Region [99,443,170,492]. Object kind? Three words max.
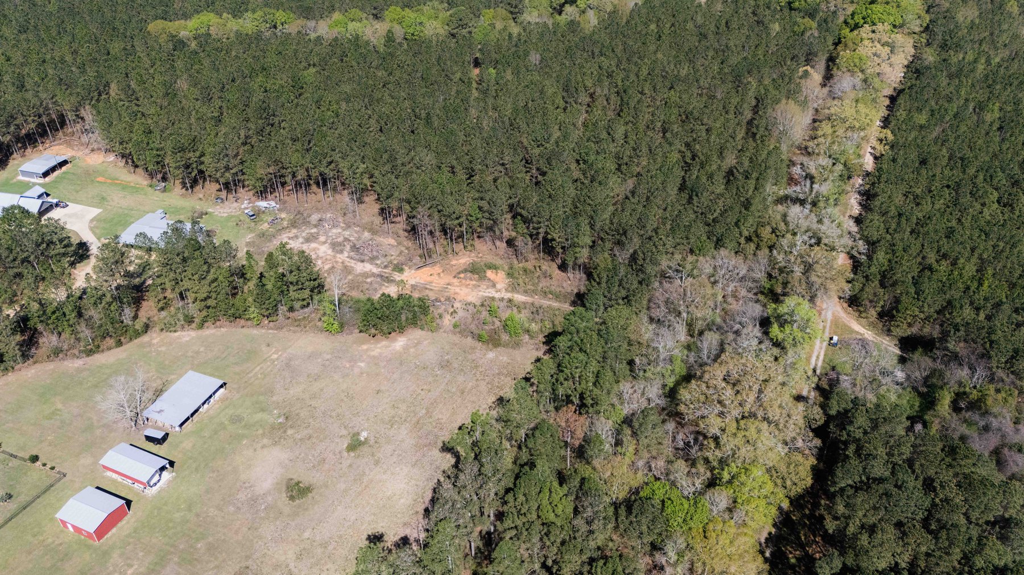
shed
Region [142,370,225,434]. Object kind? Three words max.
shed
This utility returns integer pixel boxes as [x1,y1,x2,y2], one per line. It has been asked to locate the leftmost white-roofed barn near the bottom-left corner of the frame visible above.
[56,487,130,544]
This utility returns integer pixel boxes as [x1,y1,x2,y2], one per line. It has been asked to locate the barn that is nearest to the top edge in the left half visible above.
[18,154,69,180]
